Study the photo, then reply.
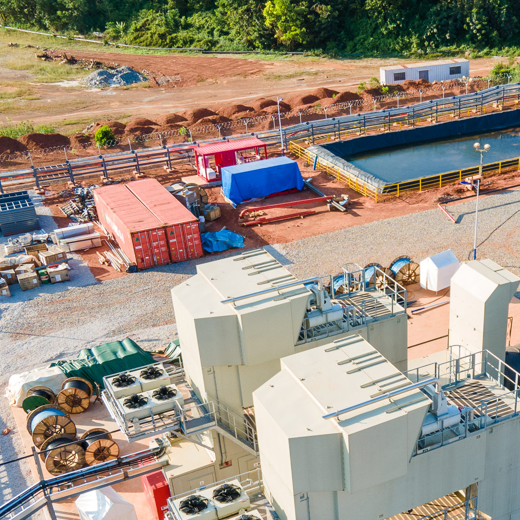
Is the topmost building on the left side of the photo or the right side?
right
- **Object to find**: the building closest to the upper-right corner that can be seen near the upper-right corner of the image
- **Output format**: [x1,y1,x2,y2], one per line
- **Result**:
[380,55,476,88]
